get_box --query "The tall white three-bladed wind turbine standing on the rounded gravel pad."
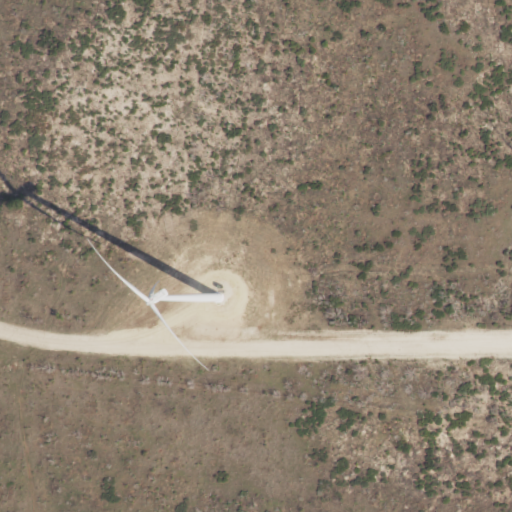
[89,240,226,370]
